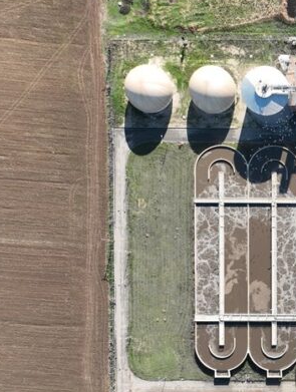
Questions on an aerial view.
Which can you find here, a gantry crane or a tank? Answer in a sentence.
I can see a tank in this picture.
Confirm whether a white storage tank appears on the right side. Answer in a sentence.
Yes, I can see a white storage tank on the right side.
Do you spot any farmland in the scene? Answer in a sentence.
Yes, farmland shows up in the scene.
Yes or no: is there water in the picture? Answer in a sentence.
Yes, the picture does contain water.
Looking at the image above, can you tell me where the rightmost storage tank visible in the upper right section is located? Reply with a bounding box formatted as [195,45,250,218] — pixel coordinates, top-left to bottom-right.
[239,67,296,128]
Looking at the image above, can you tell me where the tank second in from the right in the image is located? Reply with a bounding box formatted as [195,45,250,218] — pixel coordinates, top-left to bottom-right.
[187,64,240,114]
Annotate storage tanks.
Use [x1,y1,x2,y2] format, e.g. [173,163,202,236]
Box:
[187,64,240,114]
[239,67,296,128]
[122,63,182,114]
